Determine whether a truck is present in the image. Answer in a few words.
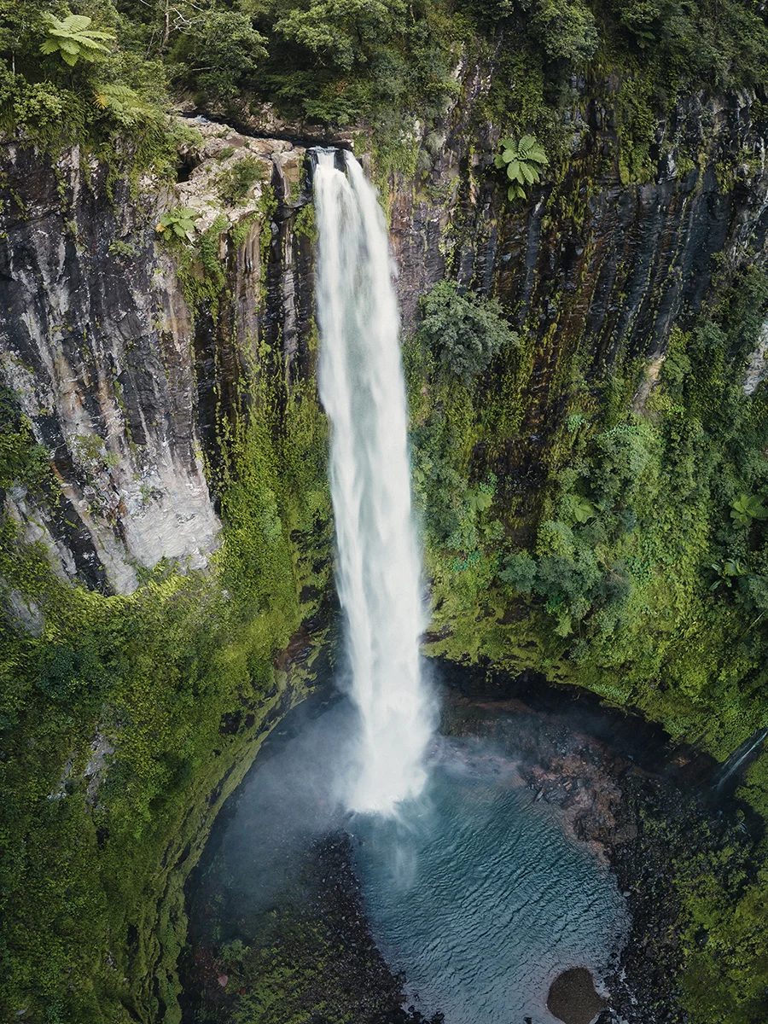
No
